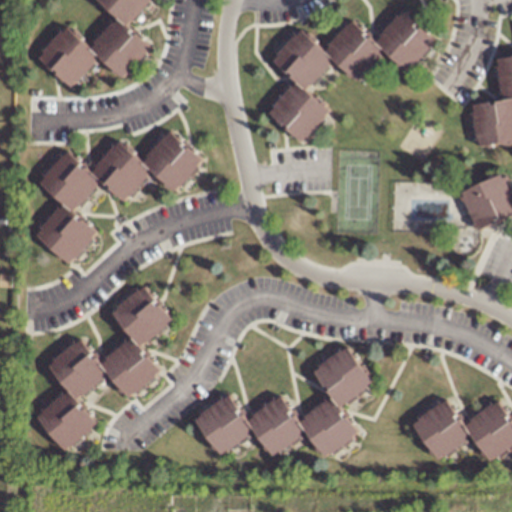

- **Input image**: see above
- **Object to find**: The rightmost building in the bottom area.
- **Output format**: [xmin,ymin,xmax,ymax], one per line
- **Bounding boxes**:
[466,404,512,460]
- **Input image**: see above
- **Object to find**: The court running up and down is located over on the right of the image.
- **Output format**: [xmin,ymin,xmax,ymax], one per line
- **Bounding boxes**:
[339,150,380,234]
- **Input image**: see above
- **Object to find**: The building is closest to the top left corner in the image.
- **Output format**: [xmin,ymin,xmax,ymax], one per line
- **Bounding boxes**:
[40,29,98,88]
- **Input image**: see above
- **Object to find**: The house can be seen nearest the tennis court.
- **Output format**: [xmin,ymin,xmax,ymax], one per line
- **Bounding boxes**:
[270,83,329,141]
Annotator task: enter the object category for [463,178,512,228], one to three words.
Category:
building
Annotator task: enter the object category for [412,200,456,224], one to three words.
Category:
swimming pool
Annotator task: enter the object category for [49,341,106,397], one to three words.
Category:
house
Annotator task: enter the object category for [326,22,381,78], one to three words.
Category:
house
